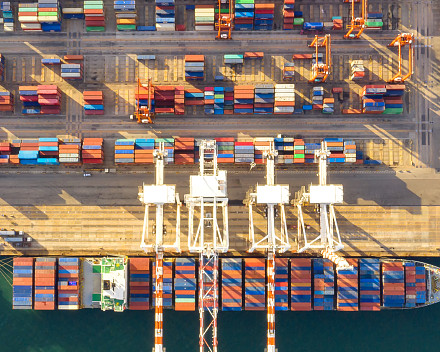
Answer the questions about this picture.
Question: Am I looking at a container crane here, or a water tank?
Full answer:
The image shows a container crane.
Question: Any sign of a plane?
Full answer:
No, the scene contains no plane.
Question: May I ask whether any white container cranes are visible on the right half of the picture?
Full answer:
Yes, looking on the right half of the picture, one can make out a white container crane.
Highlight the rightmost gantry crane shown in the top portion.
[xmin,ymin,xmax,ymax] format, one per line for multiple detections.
[388,34,415,84]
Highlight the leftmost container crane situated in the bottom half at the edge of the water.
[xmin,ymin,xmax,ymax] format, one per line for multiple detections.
[132,133,182,352]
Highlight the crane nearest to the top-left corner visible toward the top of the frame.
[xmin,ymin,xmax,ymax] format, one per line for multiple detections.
[134,76,155,123]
